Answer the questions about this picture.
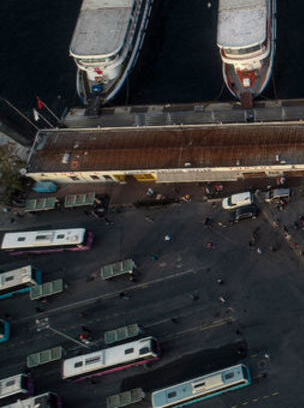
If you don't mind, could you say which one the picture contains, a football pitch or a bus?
bus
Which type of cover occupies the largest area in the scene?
paved ground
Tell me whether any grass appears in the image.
No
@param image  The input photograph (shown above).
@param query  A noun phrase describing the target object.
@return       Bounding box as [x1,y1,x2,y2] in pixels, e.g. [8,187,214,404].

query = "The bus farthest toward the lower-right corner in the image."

[153,362,255,408]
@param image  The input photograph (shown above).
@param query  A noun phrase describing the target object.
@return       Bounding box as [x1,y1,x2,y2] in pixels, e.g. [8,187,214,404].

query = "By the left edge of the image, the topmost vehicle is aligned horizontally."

[1,229,97,256]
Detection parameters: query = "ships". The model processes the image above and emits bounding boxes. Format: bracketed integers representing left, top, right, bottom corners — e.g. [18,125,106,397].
[69,0,151,109]
[217,0,283,103]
